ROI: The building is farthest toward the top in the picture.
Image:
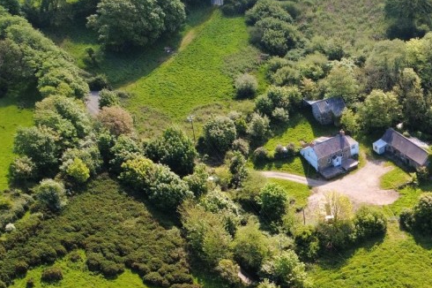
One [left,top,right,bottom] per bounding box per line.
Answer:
[303,95,344,124]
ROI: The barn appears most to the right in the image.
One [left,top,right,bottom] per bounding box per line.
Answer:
[372,128,432,167]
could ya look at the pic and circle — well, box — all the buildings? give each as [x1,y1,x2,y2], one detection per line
[299,131,363,180]
[303,95,344,124]
[372,128,432,167]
